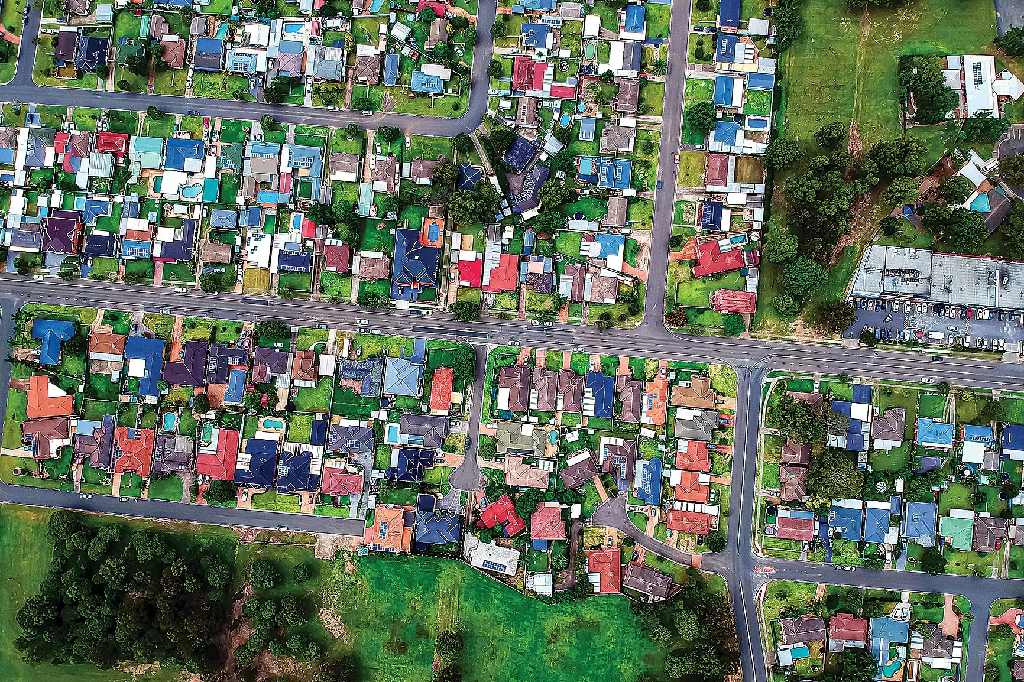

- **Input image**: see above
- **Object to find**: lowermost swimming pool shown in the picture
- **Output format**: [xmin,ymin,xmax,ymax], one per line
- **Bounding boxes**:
[884,659,901,679]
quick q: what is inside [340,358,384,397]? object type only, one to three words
house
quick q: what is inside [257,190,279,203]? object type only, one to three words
swimming pool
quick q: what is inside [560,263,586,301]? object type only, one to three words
house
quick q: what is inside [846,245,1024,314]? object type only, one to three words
building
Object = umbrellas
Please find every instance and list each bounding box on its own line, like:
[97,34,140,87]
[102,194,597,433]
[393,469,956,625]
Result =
[877,481,886,492]
[750,231,760,242]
